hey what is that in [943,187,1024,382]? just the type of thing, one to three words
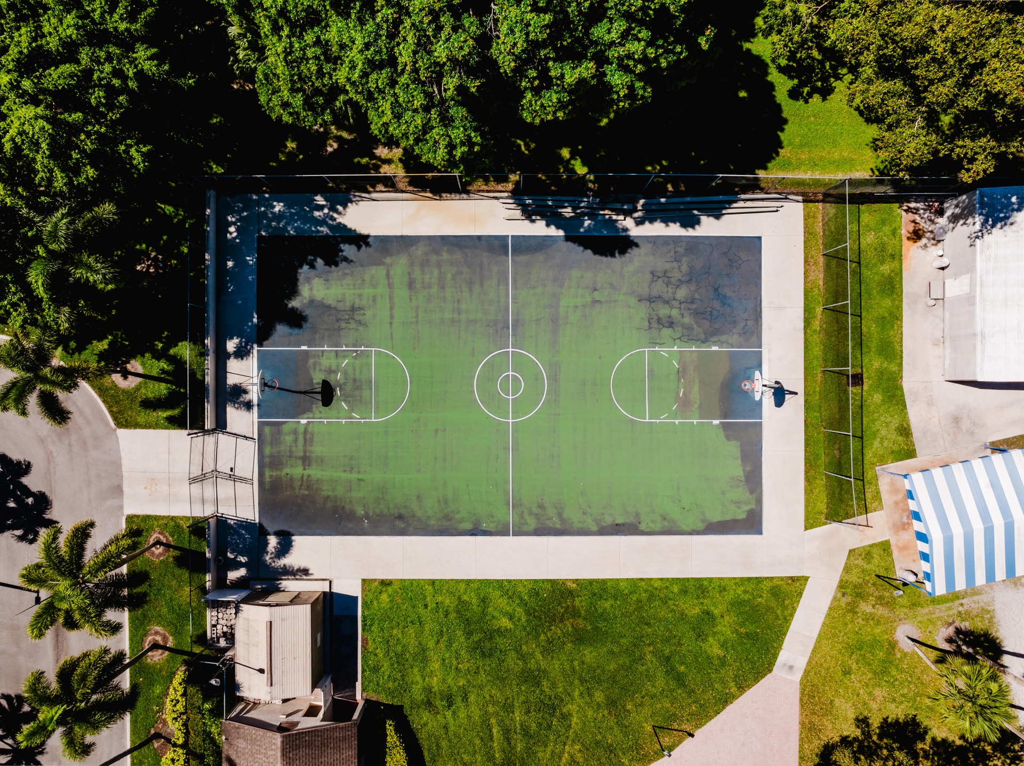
building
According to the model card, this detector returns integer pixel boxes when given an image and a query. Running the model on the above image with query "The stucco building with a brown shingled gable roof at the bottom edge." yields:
[217,676,368,766]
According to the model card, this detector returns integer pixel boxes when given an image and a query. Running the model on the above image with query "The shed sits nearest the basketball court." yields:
[235,590,323,704]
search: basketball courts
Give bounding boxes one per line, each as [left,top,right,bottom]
[257,235,762,535]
